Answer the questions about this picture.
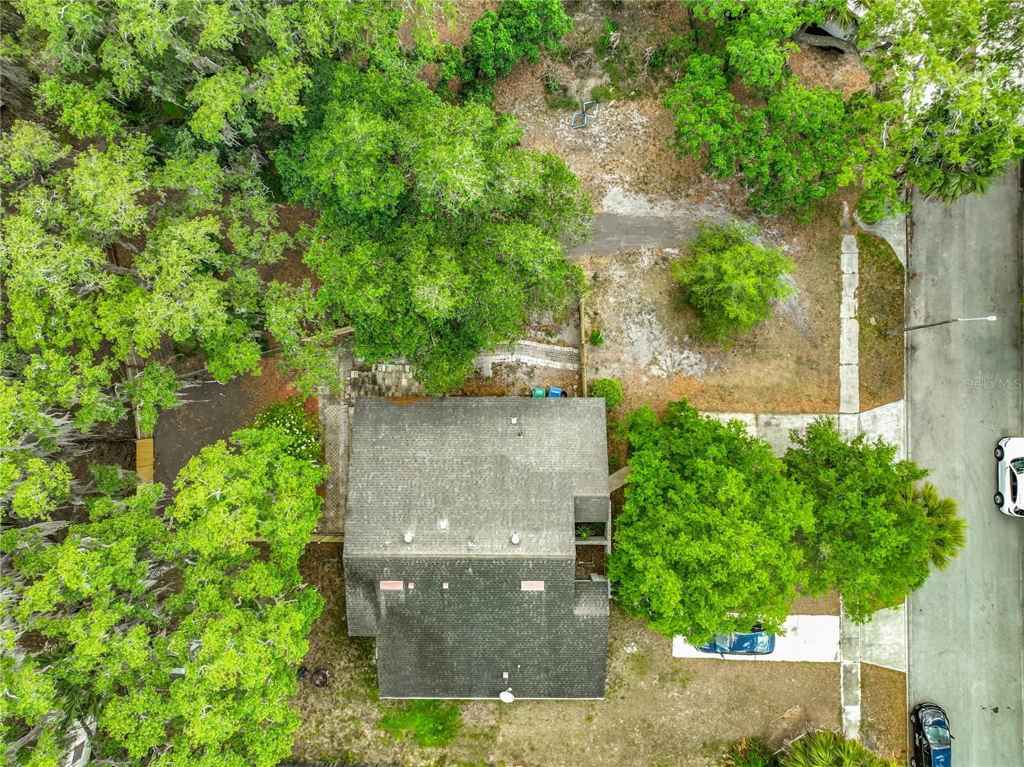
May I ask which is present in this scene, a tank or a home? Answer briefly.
home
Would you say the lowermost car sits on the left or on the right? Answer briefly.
right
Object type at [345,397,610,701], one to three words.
house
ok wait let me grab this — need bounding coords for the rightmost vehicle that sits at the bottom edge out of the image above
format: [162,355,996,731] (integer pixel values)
[910,702,956,767]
